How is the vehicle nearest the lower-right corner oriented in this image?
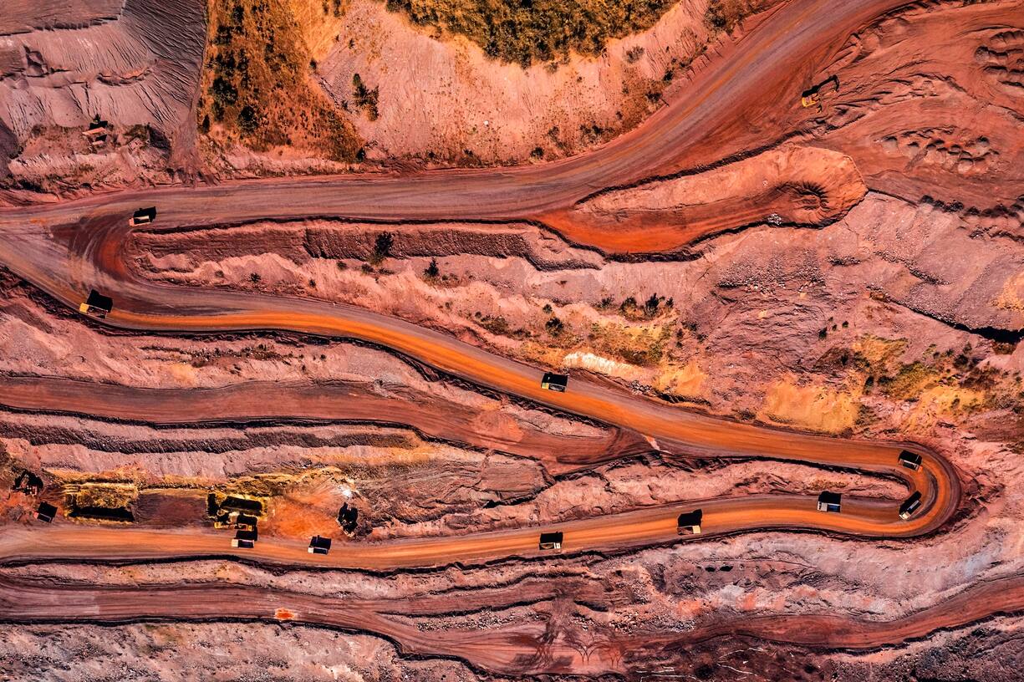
at an angle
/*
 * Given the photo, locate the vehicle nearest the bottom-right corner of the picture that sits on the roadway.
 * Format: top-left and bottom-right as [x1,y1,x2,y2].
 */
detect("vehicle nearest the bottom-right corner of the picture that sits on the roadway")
[902,499,925,519]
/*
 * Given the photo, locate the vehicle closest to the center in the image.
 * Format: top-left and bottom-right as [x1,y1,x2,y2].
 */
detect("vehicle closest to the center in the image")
[543,384,568,396]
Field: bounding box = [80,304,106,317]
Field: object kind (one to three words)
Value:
vehicle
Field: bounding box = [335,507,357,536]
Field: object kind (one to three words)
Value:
work vehicle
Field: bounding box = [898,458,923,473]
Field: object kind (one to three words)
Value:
vehicle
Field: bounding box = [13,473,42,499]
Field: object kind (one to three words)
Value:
work vehicle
